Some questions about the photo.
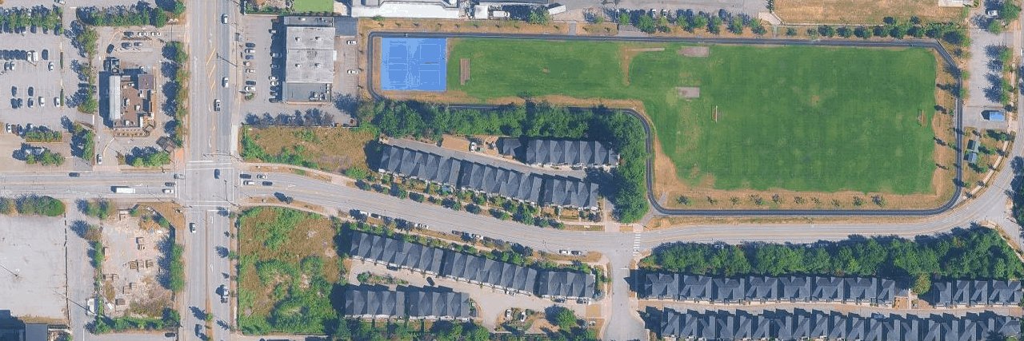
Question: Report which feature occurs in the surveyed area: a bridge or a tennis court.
tennis court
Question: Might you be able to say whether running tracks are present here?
Yes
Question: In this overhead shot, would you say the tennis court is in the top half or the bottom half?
top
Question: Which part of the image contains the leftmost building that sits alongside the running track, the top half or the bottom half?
top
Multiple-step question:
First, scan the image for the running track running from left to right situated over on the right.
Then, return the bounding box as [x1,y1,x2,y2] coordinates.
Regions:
[366,31,964,216]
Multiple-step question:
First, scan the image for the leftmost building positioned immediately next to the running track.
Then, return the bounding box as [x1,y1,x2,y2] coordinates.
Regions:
[283,17,338,104]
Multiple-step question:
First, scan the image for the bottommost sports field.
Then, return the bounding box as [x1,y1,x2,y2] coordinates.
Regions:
[373,37,958,210]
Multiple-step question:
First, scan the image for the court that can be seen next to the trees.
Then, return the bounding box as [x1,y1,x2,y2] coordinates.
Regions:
[380,38,447,92]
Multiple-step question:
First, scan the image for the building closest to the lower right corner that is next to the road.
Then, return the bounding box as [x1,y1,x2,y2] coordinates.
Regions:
[995,317,1022,338]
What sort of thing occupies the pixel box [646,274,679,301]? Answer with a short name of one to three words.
house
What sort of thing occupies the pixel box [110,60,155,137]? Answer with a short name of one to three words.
building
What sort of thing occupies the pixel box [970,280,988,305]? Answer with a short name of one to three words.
house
